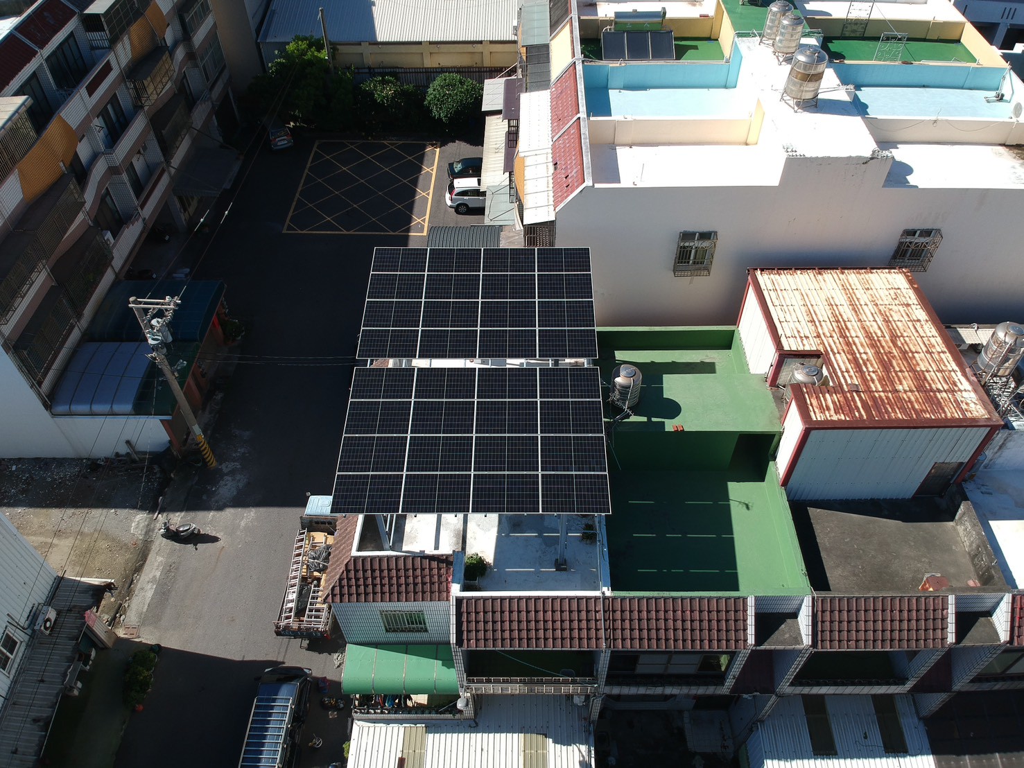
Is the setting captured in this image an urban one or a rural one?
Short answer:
urban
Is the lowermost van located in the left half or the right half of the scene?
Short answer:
left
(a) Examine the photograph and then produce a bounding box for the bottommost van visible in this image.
[238,669,318,768]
